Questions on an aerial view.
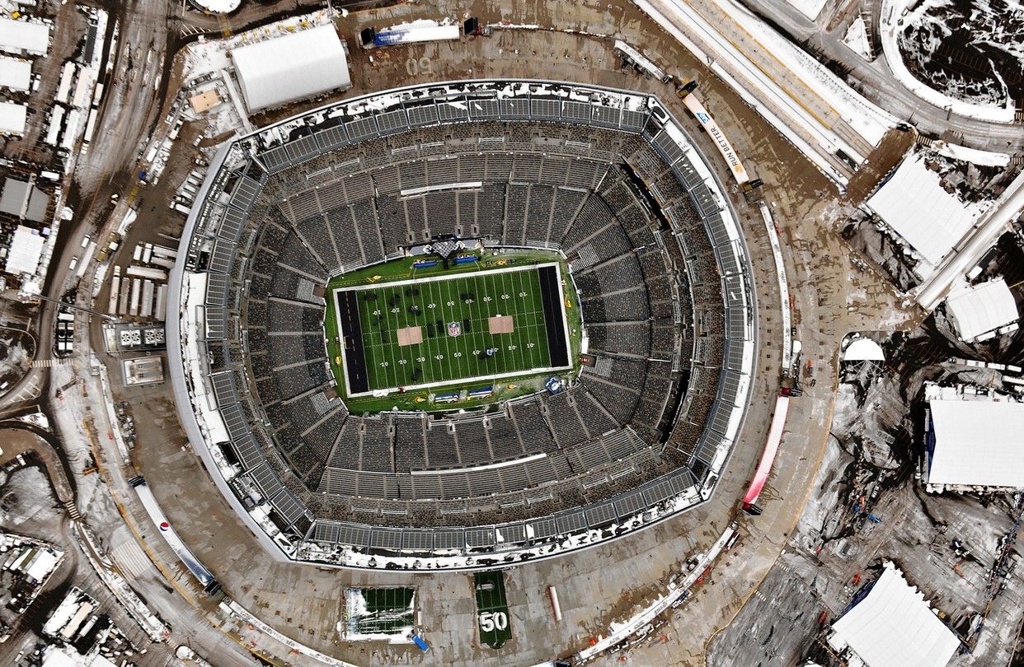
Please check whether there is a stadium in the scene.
Yes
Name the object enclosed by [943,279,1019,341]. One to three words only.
tent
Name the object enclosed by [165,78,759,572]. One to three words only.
stadium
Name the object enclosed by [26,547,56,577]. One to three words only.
tent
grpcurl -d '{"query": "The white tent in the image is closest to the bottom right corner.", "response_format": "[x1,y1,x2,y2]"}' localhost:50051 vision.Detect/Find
[828,567,961,667]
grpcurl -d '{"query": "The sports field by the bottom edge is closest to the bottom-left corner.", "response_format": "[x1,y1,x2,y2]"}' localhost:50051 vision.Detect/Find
[344,585,415,646]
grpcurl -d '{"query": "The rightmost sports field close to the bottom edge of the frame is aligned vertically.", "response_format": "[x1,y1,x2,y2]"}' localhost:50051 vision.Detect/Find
[474,569,512,649]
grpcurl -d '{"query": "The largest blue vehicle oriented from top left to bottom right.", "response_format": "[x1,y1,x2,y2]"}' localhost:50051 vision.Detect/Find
[411,634,429,652]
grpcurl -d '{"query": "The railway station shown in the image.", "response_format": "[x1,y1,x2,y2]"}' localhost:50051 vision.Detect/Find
[639,0,873,184]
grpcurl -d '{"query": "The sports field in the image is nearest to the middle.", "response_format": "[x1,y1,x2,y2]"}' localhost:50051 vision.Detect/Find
[324,248,581,417]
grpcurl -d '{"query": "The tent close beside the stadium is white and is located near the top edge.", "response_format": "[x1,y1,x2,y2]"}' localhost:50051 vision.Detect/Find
[229,23,350,112]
